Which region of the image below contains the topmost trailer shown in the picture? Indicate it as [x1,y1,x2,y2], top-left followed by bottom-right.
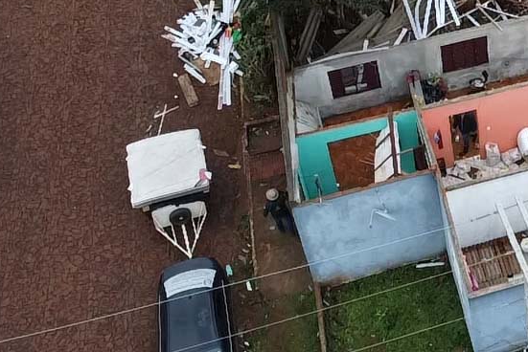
[121,121,210,251]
